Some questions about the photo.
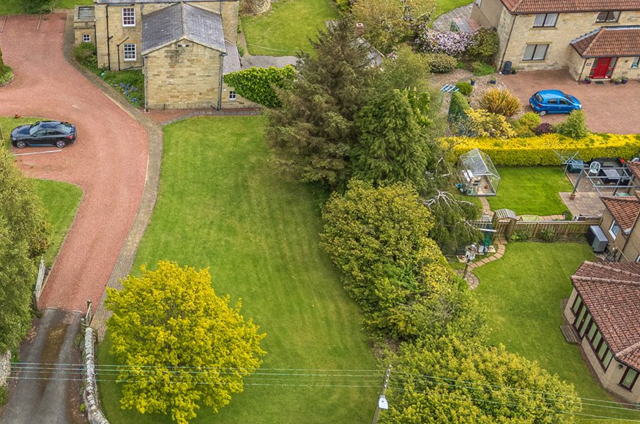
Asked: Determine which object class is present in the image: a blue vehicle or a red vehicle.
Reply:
blue vehicle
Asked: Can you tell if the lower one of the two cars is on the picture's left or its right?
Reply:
left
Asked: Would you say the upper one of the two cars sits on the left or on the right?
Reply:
right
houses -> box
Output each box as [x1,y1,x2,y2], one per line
[71,0,266,111]
[464,0,640,84]
[556,156,640,403]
